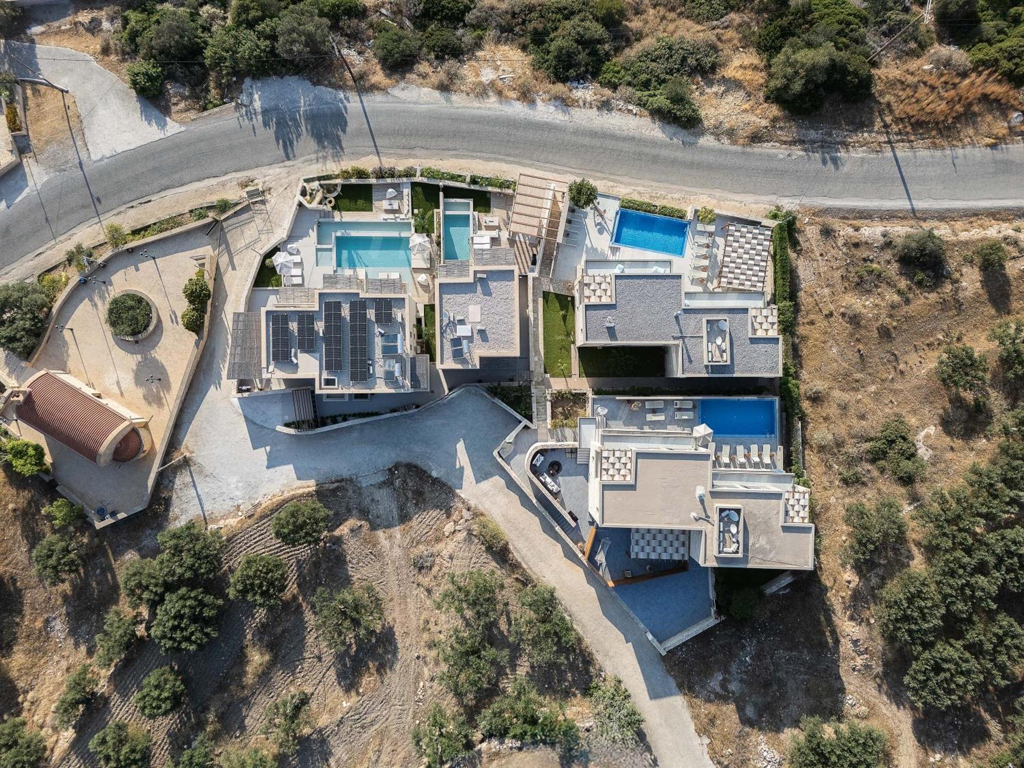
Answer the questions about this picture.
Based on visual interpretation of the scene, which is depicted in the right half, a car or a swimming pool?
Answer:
swimming pool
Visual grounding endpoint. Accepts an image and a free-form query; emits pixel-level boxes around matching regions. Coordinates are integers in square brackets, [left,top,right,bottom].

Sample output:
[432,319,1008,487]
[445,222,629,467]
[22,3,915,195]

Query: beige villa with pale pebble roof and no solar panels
[435,265,520,371]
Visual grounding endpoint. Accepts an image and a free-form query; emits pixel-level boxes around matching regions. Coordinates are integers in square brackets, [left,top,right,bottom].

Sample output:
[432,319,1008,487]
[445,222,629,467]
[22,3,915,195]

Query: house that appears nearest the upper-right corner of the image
[576,260,782,378]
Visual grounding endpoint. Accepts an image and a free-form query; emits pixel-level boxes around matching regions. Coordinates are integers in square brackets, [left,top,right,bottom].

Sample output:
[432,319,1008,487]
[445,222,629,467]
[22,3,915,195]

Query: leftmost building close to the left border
[0,367,147,465]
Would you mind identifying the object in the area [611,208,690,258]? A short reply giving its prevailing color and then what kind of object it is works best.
blue swimming pool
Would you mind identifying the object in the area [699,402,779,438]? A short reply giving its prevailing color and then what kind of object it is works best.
blue swimming pool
